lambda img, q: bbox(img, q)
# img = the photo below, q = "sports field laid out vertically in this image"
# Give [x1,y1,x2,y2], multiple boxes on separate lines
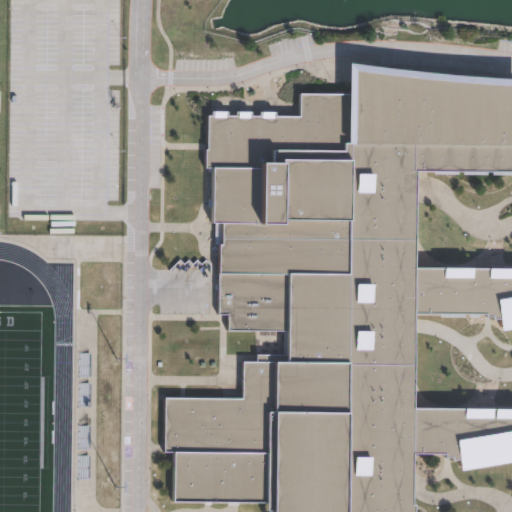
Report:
[0,306,54,512]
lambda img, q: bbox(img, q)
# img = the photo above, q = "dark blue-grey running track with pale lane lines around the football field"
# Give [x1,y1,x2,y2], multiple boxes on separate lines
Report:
[0,244,74,512]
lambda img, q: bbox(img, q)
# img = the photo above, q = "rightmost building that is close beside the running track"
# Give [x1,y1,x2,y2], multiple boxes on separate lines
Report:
[164,64,512,512]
